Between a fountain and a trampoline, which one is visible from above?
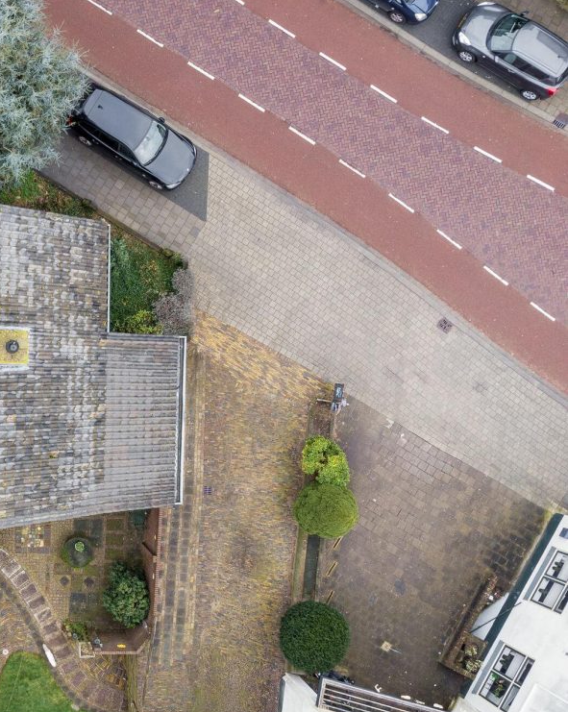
fountain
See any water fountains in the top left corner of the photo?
No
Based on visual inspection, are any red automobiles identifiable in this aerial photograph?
No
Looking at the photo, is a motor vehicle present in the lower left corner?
No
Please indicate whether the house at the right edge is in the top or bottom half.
bottom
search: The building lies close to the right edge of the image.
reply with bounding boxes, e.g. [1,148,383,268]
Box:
[444,504,568,712]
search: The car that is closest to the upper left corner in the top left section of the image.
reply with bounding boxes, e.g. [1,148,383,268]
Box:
[68,81,198,194]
